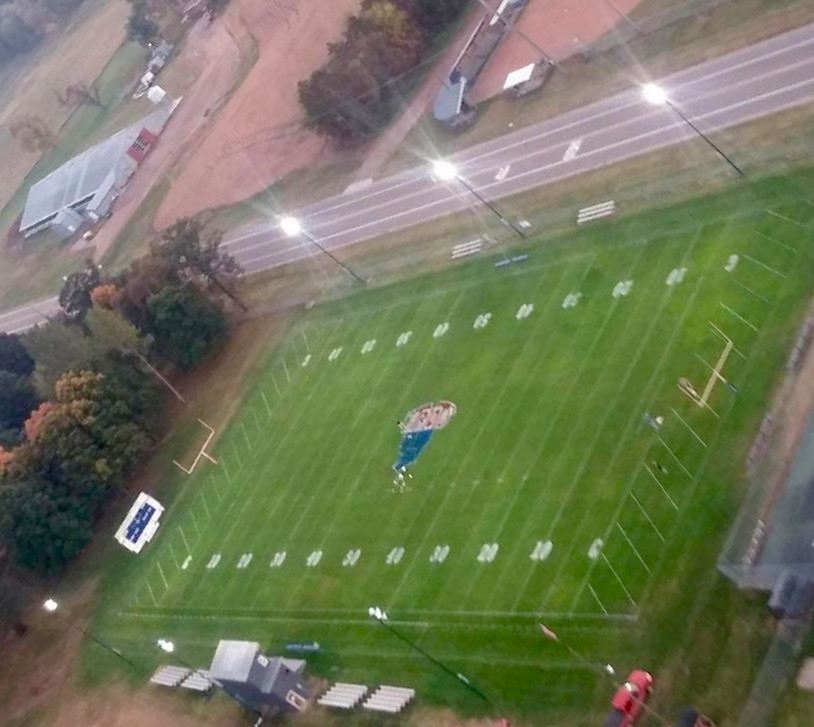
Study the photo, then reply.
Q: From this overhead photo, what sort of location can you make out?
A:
sports ground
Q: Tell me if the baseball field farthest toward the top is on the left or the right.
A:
right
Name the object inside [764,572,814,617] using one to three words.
shed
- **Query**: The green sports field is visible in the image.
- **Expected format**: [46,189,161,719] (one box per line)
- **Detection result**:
[84,141,814,716]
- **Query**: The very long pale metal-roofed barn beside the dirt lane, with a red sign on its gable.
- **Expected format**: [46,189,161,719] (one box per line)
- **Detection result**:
[14,104,172,246]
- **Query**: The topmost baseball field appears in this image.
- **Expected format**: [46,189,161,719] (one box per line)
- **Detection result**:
[471,0,650,110]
